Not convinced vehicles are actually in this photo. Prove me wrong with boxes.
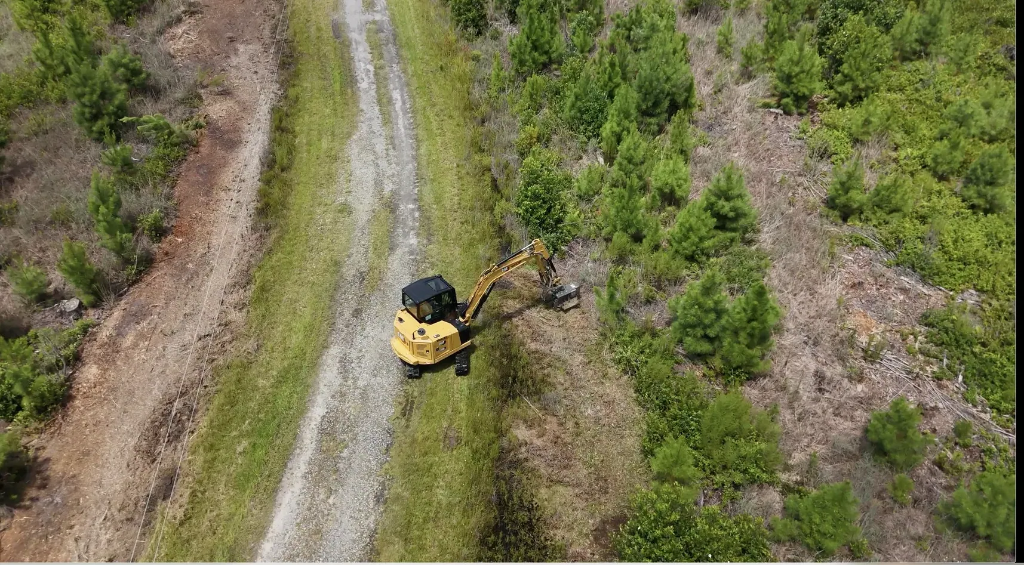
[391,237,583,376]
